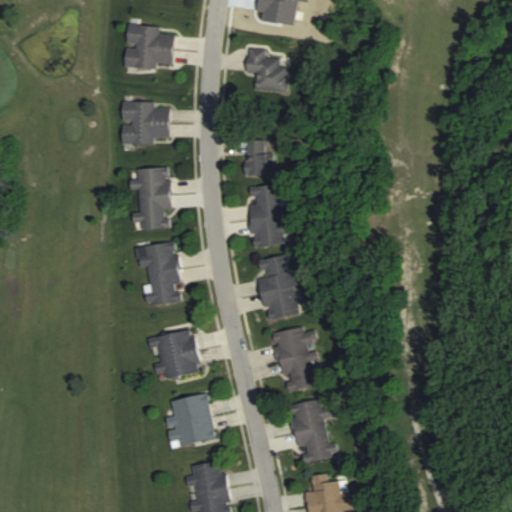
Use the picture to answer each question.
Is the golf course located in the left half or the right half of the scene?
left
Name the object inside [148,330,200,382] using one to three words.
house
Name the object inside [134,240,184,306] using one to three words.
house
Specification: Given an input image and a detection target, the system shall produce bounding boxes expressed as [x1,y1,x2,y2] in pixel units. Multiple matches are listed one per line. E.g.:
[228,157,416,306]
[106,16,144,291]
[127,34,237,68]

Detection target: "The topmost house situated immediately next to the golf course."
[124,18,176,72]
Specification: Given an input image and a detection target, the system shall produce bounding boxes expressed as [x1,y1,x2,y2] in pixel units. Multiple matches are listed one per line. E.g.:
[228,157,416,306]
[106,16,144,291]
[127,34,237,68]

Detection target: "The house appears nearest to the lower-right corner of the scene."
[304,474,353,512]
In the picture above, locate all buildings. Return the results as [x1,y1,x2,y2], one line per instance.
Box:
[120,96,172,151]
[240,139,276,178]
[252,0,304,26]
[257,254,304,317]
[166,394,215,450]
[148,330,200,382]
[244,48,290,94]
[130,166,173,230]
[304,474,353,512]
[185,461,230,512]
[272,328,320,392]
[290,398,338,460]
[247,186,288,248]
[134,240,184,306]
[124,18,176,72]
